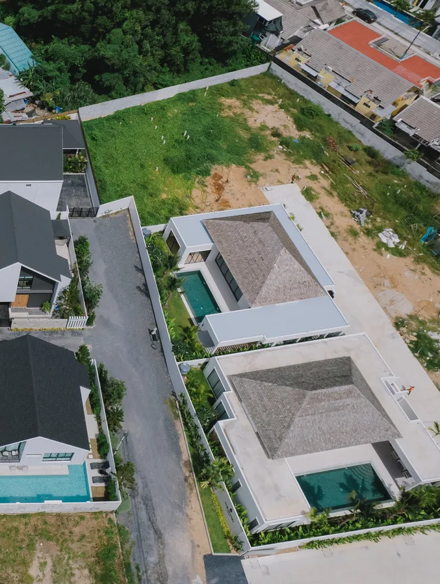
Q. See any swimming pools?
Yes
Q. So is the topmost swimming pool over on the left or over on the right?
right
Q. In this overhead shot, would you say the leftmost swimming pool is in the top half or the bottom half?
bottom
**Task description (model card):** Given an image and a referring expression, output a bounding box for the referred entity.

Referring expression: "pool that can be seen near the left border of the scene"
[0,457,93,502]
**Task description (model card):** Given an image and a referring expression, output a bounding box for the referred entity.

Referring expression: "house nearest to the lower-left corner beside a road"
[0,333,90,465]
